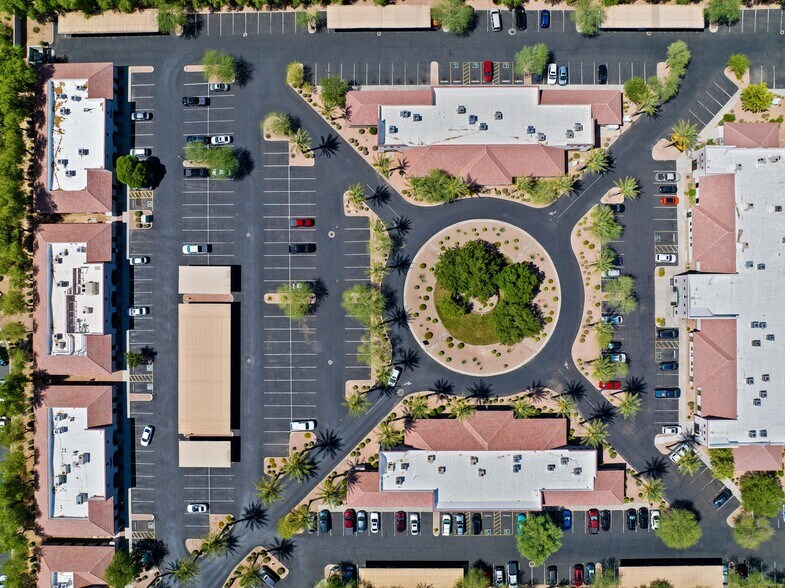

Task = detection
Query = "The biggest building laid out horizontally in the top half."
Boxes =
[346,87,622,186]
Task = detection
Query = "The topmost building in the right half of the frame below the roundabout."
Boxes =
[346,410,626,511]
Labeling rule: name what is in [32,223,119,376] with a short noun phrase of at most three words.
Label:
building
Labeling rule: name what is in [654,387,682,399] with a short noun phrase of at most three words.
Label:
vehicle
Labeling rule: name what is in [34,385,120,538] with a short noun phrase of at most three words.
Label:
building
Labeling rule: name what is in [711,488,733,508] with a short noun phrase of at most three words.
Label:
car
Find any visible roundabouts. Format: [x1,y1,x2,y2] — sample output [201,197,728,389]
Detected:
[403,218,561,376]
